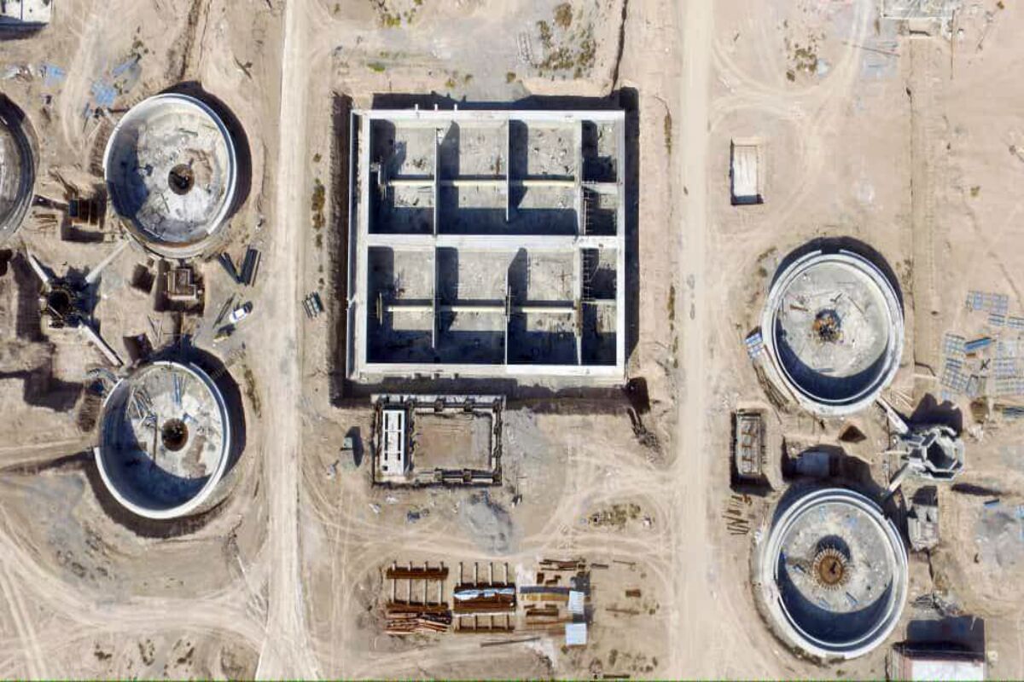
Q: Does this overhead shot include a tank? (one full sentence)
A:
Yes, a tank can be made out from above.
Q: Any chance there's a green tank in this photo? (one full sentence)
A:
No, there is no green tank in the image.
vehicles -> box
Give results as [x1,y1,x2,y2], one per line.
[212,330,230,343]
[231,305,251,323]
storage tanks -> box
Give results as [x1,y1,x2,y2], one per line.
[758,484,907,654]
[755,243,904,412]
[104,92,248,254]
[0,98,42,252]
[95,360,241,519]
